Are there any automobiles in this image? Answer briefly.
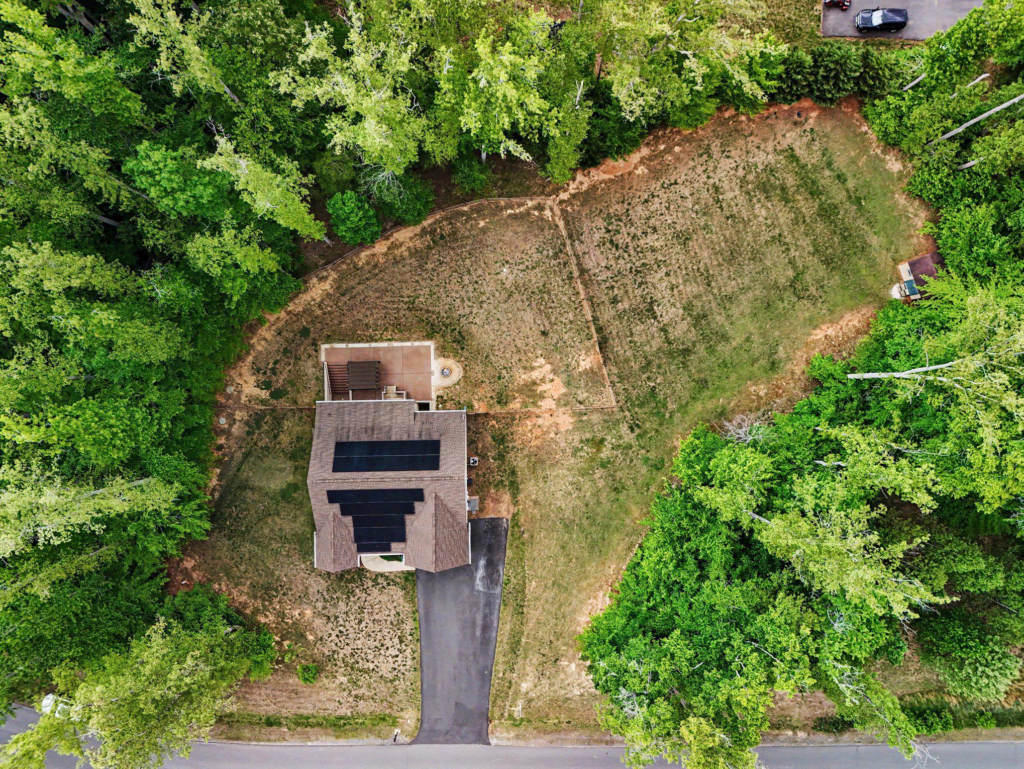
Yes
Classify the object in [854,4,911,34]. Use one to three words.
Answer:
car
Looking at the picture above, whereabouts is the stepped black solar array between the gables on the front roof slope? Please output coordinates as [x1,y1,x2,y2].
[327,488,423,552]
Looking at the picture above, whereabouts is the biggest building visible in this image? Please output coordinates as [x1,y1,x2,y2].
[307,399,473,573]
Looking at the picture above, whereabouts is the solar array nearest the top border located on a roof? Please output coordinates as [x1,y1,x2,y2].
[332,441,440,473]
